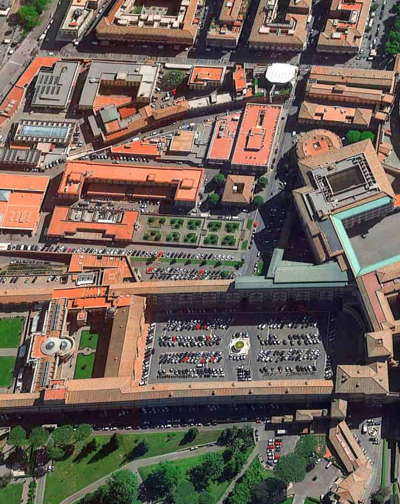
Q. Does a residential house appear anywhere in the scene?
Yes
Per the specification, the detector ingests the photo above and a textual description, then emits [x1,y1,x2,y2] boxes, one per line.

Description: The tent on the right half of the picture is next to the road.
[266,63,298,86]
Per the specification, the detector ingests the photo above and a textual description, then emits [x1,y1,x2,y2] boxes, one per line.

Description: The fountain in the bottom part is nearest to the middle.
[227,337,250,354]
